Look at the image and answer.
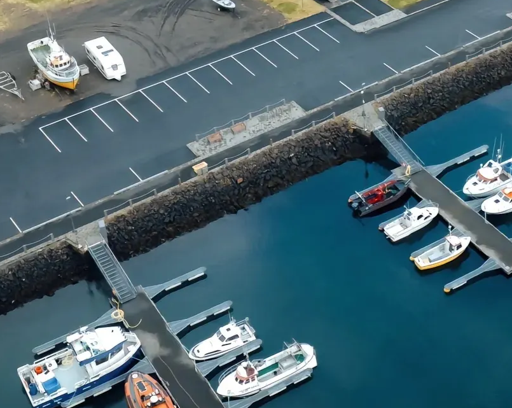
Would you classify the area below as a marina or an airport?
marina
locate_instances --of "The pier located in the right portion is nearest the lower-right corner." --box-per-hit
[443,258,501,295]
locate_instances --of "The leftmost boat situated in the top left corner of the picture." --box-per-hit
[28,18,78,91]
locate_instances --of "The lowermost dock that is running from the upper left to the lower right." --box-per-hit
[115,287,228,408]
